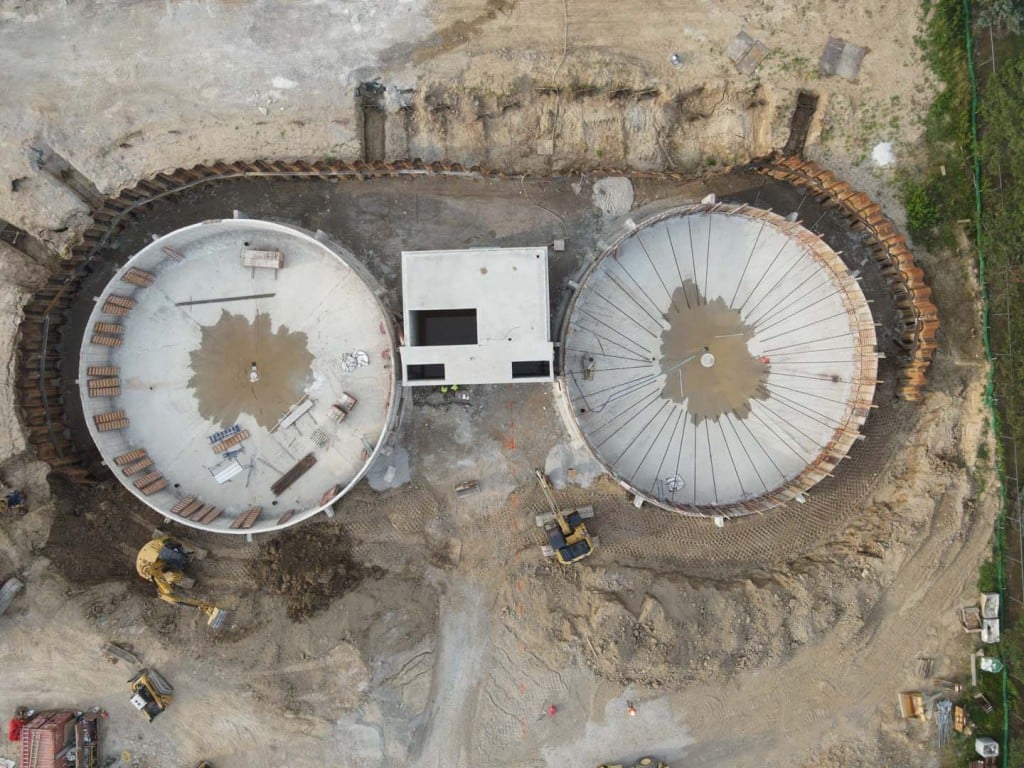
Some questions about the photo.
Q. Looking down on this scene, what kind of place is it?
industrial area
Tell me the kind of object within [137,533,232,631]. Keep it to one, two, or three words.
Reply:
work vehicle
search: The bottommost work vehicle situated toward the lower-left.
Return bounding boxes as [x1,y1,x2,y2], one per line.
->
[125,663,176,721]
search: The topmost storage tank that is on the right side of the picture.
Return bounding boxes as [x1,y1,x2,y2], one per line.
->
[553,197,883,524]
